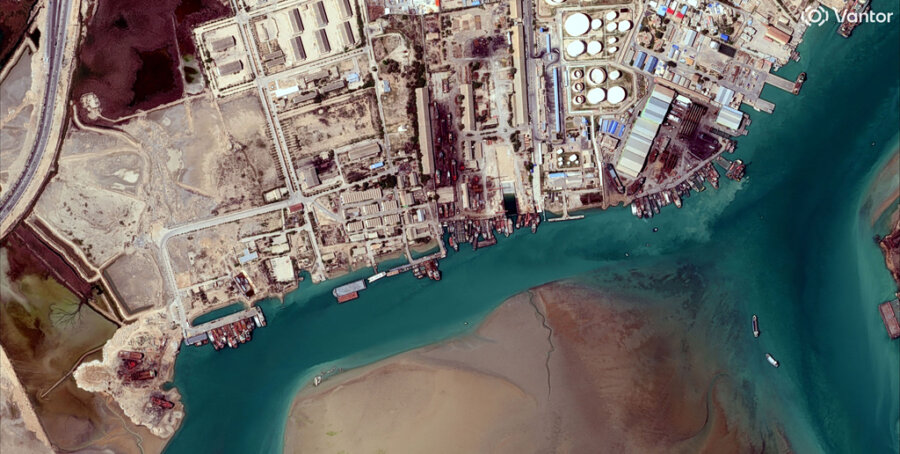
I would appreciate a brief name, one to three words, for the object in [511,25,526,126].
building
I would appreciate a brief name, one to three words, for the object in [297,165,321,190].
building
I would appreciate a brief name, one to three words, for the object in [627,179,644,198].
ship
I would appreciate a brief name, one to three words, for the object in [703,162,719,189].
vessel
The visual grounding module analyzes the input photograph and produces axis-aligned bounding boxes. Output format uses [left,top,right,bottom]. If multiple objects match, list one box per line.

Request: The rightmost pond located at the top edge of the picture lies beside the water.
[69,0,234,146]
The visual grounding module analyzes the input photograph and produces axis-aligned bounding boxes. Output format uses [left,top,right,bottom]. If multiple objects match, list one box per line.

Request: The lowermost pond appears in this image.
[0,235,157,454]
